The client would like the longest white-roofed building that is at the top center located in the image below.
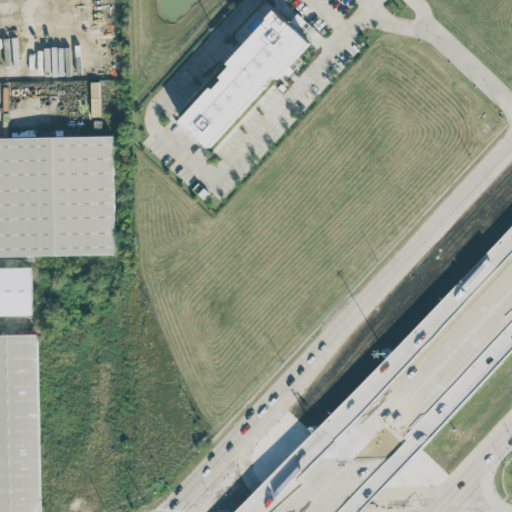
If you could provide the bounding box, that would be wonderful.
[178,10,312,149]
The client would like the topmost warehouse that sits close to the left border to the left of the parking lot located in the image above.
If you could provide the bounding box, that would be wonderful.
[0,138,119,256]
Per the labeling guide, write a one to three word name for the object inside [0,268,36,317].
building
